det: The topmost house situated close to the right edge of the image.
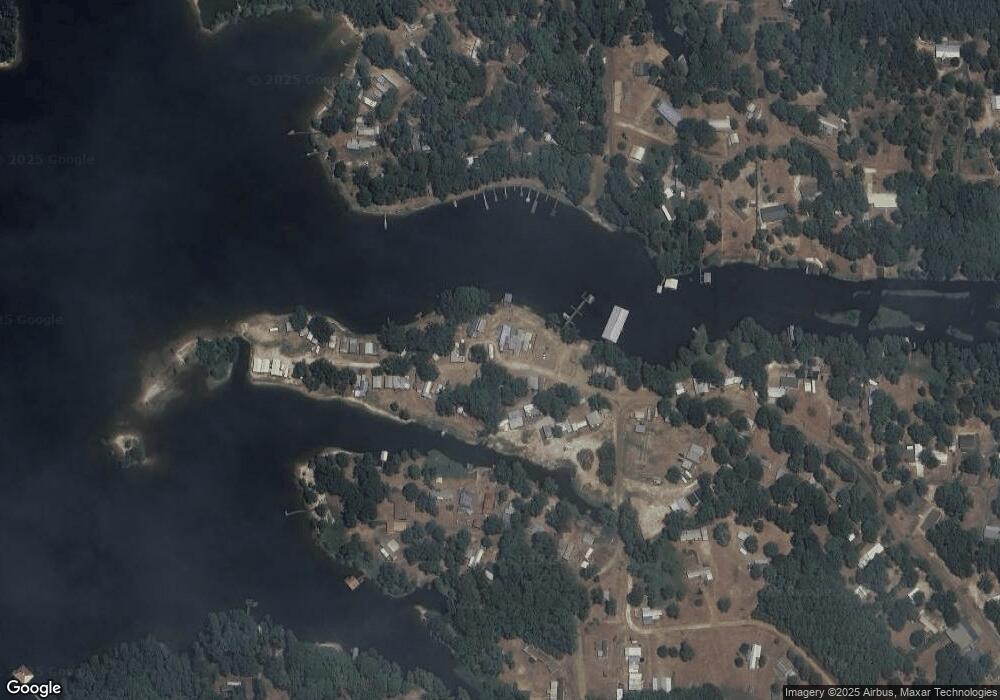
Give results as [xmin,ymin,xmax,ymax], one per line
[936,44,960,62]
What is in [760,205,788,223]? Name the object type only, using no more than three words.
house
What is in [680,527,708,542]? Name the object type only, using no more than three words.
house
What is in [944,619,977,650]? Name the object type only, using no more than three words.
building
